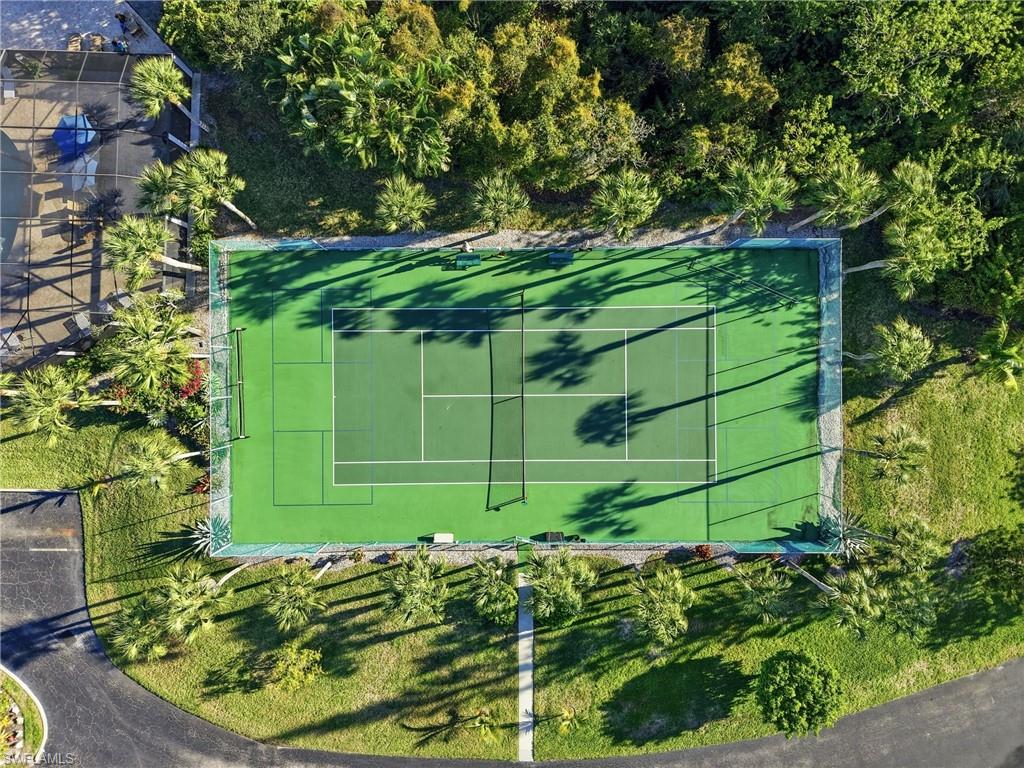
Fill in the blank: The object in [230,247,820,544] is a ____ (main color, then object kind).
green tennis court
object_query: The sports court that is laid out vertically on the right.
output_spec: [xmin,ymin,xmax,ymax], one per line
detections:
[676,287,778,502]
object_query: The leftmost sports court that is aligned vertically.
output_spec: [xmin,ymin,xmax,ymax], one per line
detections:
[272,289,373,506]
